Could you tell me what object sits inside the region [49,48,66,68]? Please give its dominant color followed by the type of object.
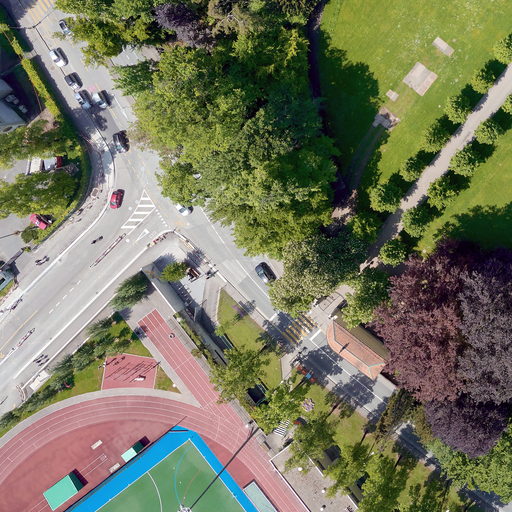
white car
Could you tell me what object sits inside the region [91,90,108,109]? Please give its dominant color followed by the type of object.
white car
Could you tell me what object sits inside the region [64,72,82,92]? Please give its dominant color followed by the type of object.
gray car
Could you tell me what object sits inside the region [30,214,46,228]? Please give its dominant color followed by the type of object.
red car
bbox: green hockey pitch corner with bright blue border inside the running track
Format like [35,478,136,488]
[62,424,258,512]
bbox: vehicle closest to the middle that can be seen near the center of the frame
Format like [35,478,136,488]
[254,260,272,282]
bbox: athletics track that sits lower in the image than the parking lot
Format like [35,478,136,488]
[0,310,304,512]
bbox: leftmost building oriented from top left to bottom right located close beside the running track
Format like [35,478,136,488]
[142,260,193,316]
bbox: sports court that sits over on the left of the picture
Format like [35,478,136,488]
[102,353,156,390]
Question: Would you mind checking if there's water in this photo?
No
